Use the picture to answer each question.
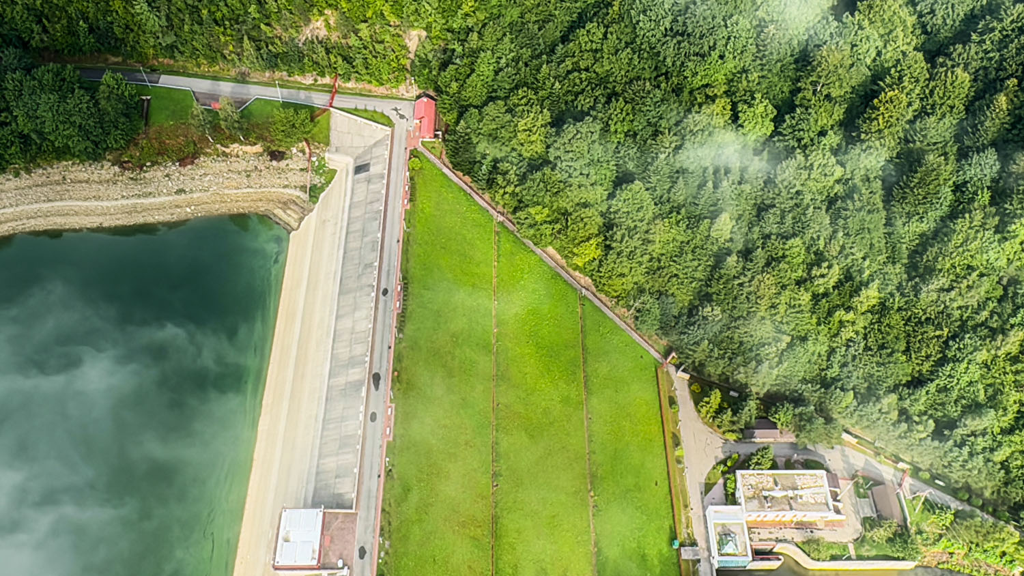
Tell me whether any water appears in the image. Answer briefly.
Yes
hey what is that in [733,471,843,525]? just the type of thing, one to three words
building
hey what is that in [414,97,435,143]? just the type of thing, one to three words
house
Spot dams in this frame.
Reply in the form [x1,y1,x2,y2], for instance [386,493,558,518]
[236,107,683,576]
